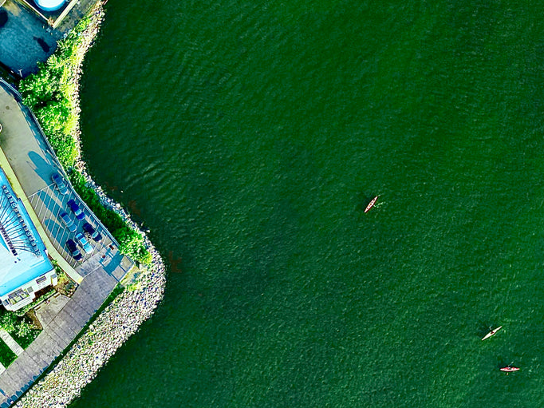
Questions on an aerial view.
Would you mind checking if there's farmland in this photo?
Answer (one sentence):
No, farmland can't be seen anywhere here.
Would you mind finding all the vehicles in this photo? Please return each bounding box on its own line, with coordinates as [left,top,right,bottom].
[64,238,84,261]
[52,174,69,197]
[75,231,95,254]
[66,198,86,221]
[57,210,78,232]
